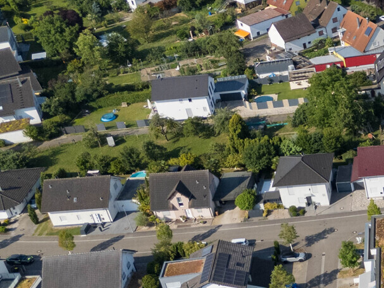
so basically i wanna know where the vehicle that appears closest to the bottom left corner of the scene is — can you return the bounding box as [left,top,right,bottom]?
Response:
[6,252,36,265]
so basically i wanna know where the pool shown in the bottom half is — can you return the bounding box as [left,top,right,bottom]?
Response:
[126,168,152,183]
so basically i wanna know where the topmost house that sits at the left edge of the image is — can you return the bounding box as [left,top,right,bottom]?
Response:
[0,25,21,47]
